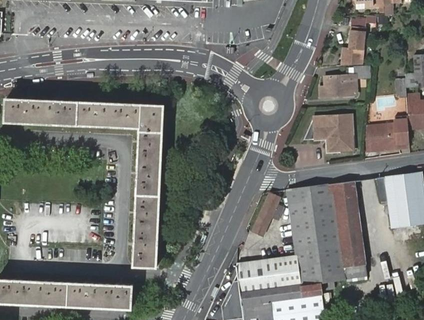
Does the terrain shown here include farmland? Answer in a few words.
No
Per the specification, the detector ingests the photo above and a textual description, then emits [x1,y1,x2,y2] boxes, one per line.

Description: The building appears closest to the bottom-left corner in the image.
[0,278,134,312]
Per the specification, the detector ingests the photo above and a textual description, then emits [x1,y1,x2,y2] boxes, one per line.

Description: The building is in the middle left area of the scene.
[3,98,164,270]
